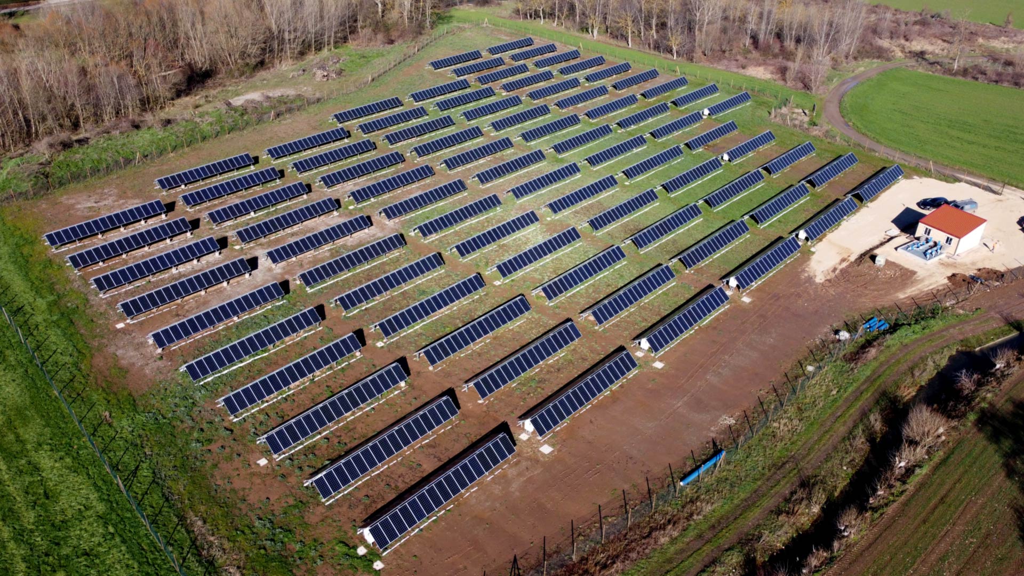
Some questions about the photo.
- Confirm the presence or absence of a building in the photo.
Yes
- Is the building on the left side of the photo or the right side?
right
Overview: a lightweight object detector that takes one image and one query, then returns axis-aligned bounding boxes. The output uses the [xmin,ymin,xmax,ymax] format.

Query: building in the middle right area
[915,202,991,255]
